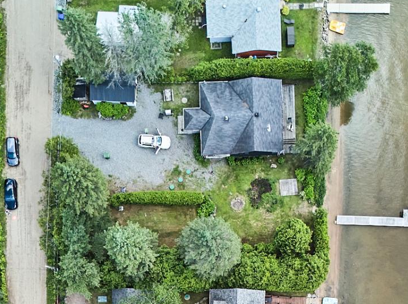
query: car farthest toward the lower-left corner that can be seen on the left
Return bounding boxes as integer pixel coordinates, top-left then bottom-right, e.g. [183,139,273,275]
[2,177,17,209]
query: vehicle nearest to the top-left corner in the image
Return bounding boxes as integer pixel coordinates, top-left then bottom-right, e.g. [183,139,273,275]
[3,135,19,166]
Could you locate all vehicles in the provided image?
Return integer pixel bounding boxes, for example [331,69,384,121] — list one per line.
[3,135,19,166]
[137,129,170,154]
[2,177,17,209]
